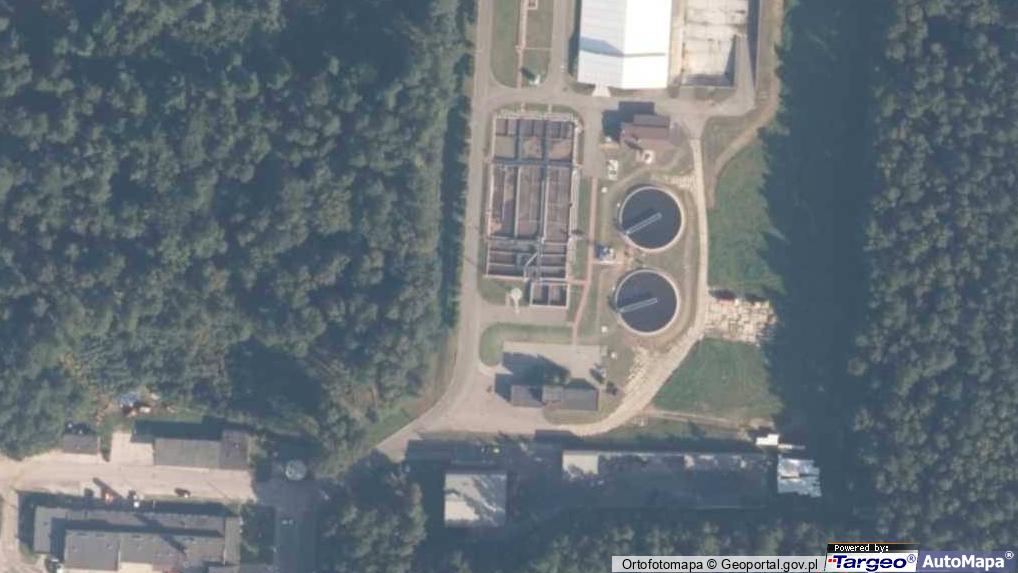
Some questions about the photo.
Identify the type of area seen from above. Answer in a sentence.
The picture captures an industrial area.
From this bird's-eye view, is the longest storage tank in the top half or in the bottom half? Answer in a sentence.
The longest storage tank sits in the top half of the picture.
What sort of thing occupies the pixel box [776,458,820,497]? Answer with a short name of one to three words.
shed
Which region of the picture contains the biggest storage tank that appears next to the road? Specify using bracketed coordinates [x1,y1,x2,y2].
[486,109,576,281]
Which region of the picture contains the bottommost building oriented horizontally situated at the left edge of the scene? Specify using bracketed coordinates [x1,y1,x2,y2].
[34,506,246,573]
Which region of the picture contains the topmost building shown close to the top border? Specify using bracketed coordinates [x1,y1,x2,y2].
[577,0,671,90]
